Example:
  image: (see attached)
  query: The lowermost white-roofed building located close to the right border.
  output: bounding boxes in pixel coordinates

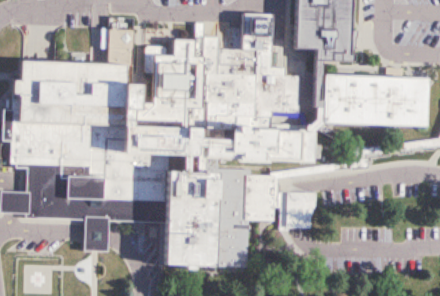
[324,67,430,128]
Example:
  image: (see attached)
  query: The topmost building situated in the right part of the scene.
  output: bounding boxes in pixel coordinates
[295,0,354,65]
